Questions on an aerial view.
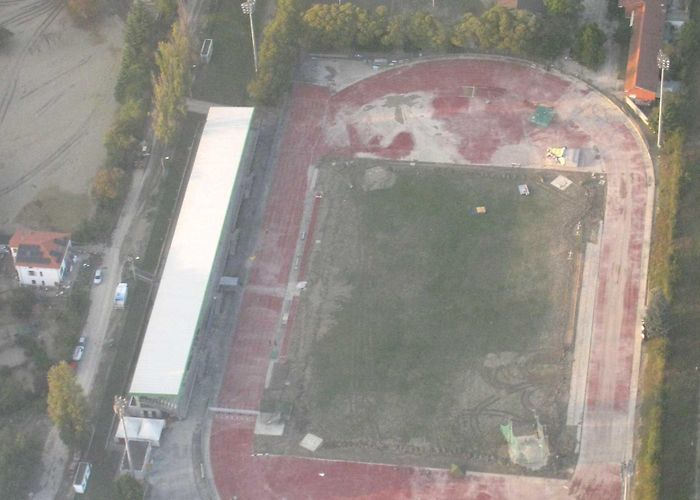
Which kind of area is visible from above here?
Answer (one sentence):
The picture captures a sports ground.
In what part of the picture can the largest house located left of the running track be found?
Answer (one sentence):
You can find the largest house located left of the running track in the left area of the picture.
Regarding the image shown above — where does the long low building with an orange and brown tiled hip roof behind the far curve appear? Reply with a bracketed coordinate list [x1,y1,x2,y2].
[621,0,665,109]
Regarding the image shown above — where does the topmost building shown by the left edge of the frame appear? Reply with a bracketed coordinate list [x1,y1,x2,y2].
[13,229,71,286]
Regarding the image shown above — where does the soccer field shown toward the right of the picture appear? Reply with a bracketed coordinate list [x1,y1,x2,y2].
[254,161,605,475]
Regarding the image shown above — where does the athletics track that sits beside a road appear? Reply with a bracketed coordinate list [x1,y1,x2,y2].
[201,56,654,500]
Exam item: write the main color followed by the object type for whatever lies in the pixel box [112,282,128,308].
white vehicle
